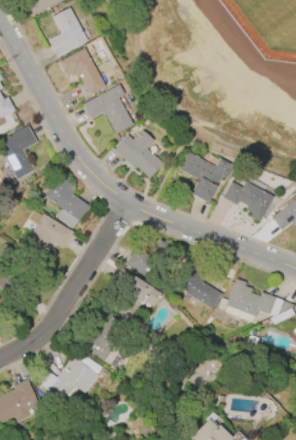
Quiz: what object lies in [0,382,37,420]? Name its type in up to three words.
house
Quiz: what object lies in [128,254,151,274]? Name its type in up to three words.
house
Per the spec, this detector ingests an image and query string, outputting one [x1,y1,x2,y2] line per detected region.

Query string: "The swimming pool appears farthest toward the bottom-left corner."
[110,403,128,422]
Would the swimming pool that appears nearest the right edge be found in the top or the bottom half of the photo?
bottom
